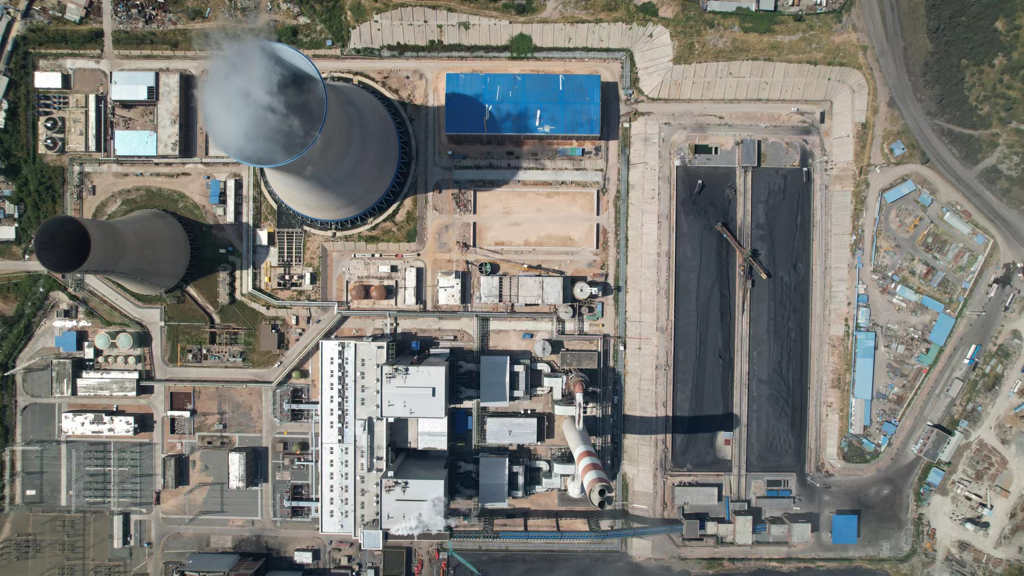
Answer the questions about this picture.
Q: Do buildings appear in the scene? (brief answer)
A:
Yes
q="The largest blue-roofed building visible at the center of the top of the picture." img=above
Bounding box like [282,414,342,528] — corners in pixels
[445,74,601,140]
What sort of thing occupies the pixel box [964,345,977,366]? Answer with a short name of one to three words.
vehicle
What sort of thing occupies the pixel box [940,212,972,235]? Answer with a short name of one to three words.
shed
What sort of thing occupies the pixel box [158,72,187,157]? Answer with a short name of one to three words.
building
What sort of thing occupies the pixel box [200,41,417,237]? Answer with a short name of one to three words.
cooling tower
